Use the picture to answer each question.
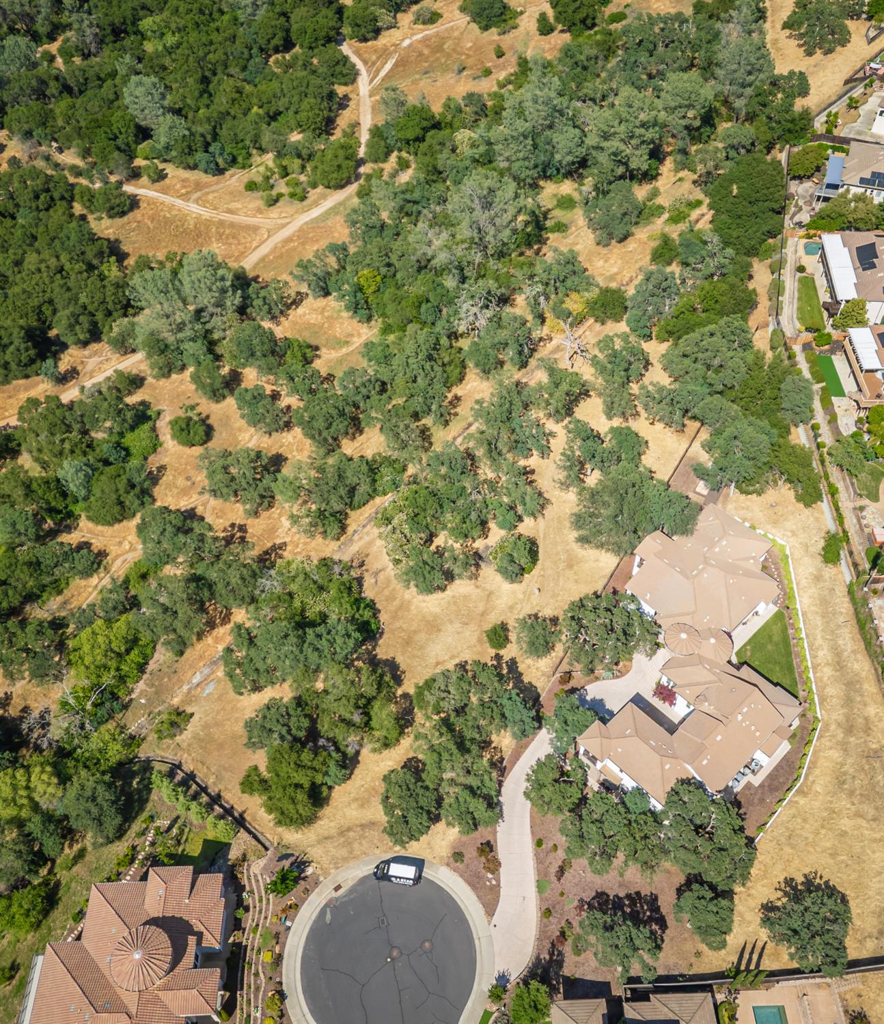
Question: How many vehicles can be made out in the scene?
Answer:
1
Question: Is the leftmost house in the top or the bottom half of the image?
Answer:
bottom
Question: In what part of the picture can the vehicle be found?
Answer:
bottom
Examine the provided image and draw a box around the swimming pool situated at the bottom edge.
[752,1004,789,1024]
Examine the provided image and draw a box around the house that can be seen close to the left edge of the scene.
[14,865,232,1024]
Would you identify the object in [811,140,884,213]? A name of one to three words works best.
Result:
house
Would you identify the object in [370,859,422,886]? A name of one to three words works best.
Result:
vehicle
